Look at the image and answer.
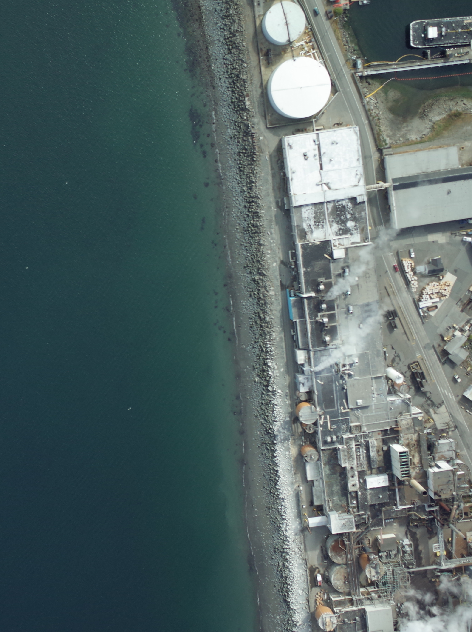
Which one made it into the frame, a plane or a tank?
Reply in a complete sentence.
Looking from above, you can make out a tank.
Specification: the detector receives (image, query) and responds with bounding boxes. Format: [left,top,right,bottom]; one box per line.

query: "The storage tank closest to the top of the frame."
[261,1,306,45]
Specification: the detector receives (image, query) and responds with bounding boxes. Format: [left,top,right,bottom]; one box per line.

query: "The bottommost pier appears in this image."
[361,40,472,71]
